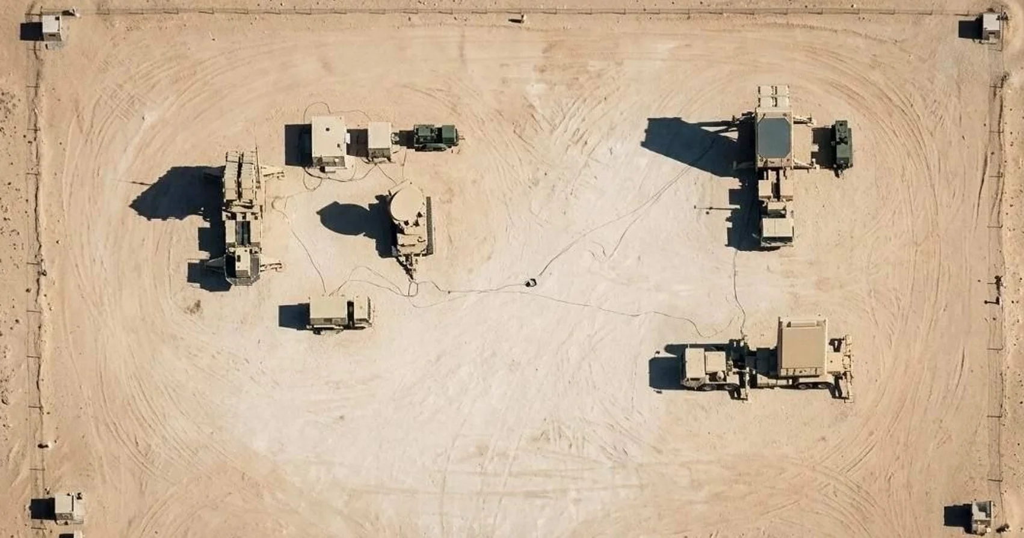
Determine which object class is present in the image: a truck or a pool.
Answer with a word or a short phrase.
truck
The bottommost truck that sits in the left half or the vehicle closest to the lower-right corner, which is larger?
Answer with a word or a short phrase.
the vehicle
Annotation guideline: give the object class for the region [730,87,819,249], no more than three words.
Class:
truck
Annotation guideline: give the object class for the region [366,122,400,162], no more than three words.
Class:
trailer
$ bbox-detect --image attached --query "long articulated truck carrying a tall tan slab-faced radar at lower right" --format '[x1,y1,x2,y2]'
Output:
[679,315,852,405]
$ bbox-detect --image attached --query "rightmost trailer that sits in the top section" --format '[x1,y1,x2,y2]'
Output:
[831,120,852,176]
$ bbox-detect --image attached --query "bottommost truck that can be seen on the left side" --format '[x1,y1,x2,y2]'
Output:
[307,295,375,335]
